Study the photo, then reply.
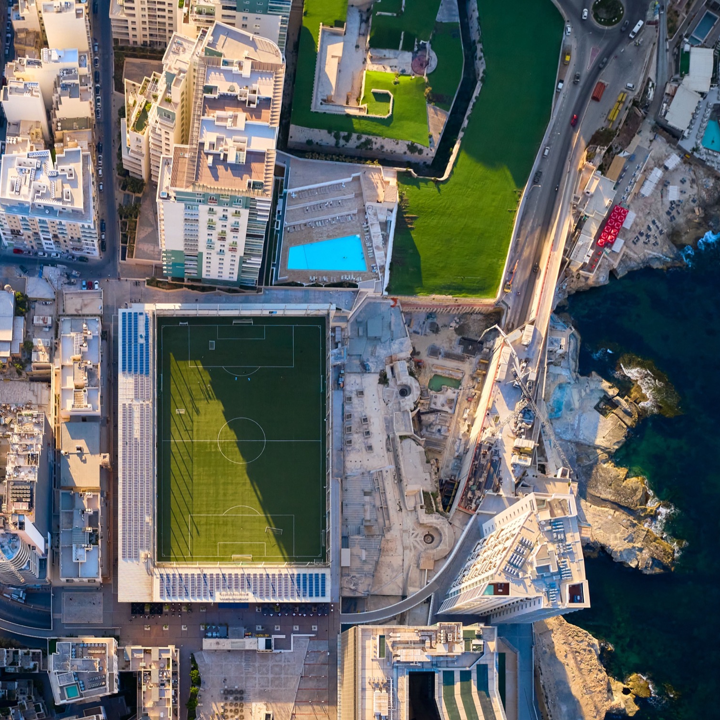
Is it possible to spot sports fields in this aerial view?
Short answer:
Yes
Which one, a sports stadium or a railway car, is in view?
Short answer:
sports stadium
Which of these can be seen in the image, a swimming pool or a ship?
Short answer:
swimming pool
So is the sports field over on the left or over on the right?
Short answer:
left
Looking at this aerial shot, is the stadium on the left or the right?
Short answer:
left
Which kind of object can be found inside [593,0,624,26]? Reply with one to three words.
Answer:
roundabout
